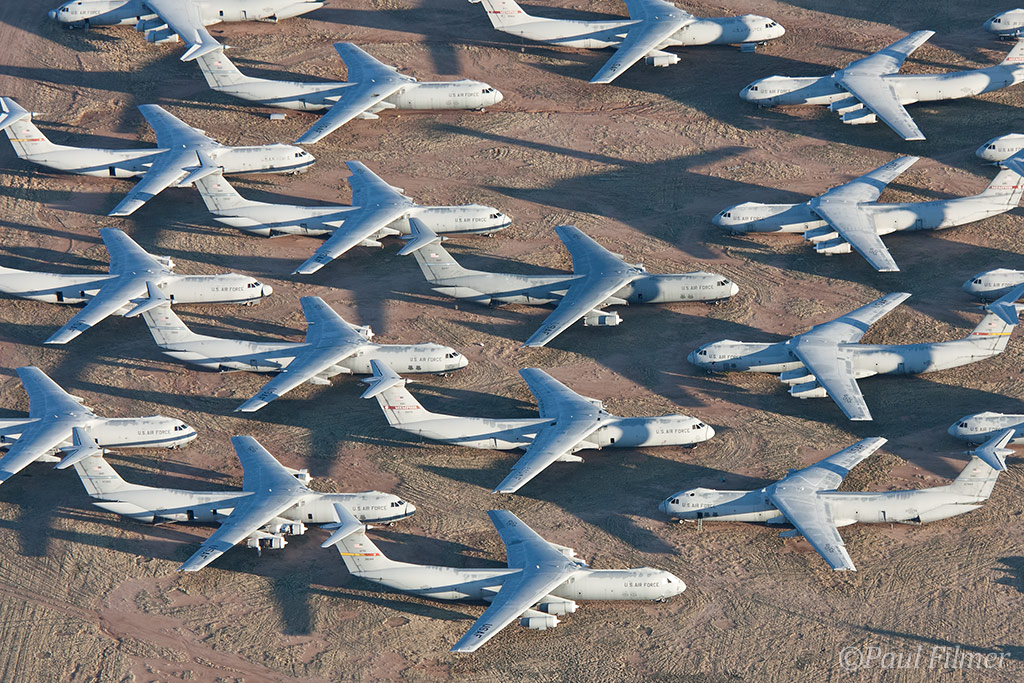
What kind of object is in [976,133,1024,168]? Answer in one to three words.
airplane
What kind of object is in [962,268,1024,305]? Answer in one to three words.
airplane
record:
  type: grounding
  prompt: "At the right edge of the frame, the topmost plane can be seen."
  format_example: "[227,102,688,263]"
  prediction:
[984,6,1024,40]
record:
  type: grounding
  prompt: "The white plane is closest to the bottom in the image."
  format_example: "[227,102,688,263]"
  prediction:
[320,504,688,652]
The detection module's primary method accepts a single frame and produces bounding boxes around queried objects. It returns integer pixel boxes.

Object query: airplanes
[712,151,1024,273]
[124,281,469,413]
[962,268,1024,305]
[397,218,739,349]
[740,32,1024,141]
[0,229,272,346]
[984,6,1024,40]
[0,367,197,486]
[688,287,1024,422]
[470,0,785,85]
[359,360,715,495]
[56,428,416,572]
[49,0,330,55]
[182,29,503,146]
[948,412,1024,450]
[179,150,513,276]
[976,133,1024,168]
[320,504,688,652]
[0,96,316,217]
[660,430,1019,572]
